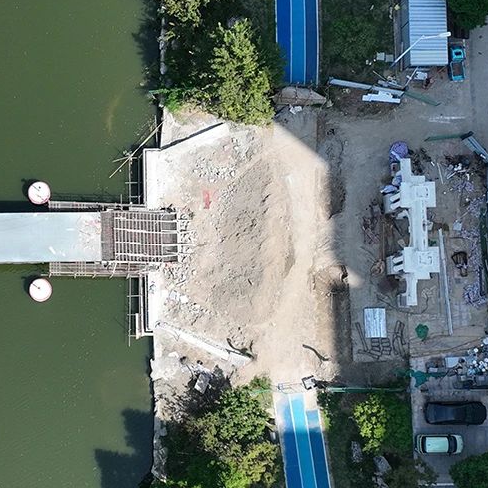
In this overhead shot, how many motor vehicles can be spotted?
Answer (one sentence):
I count 3 motor vehicles.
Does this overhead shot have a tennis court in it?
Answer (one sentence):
No, no tennis court is visible in the view.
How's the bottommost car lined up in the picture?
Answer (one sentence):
The bottommost car has been laid out horizontally relative to the frame.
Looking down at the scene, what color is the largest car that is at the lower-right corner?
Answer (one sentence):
The largest car that is at the lower-right corner is black.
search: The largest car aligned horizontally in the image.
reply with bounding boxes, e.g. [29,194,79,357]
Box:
[421,399,486,428]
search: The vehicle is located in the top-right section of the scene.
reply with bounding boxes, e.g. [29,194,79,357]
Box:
[443,42,468,81]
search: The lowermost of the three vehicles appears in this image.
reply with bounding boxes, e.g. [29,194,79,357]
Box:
[412,432,461,458]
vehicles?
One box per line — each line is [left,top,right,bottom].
[443,42,468,81]
[412,432,461,458]
[421,399,486,428]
